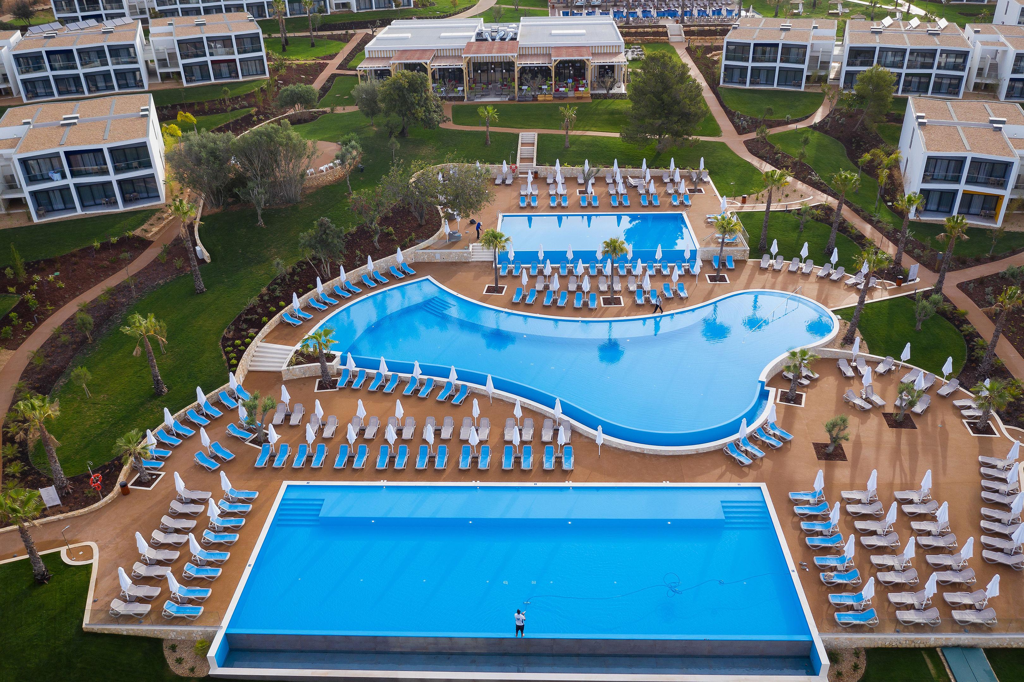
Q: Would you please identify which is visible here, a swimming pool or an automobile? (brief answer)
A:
swimming pool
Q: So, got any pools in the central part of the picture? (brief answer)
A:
Yes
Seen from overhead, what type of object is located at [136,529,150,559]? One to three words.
umbrella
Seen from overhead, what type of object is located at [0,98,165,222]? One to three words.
building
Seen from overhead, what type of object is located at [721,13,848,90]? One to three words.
building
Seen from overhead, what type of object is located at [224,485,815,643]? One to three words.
swimming pool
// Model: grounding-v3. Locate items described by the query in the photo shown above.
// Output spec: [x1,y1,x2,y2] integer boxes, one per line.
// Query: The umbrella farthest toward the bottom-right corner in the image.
[980,574,997,604]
